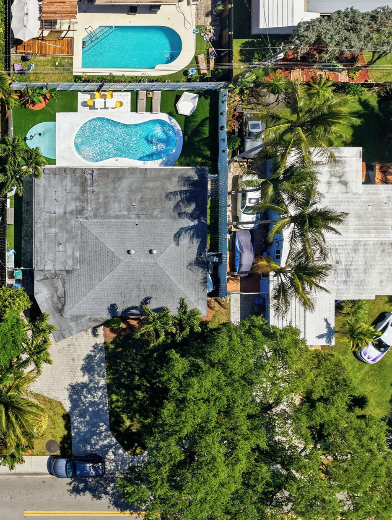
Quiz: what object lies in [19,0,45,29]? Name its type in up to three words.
umbrella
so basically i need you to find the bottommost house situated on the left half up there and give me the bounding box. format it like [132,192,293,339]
[33,166,209,341]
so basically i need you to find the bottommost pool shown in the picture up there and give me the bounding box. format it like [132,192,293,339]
[73,115,178,163]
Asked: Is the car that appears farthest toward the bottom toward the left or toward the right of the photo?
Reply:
left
